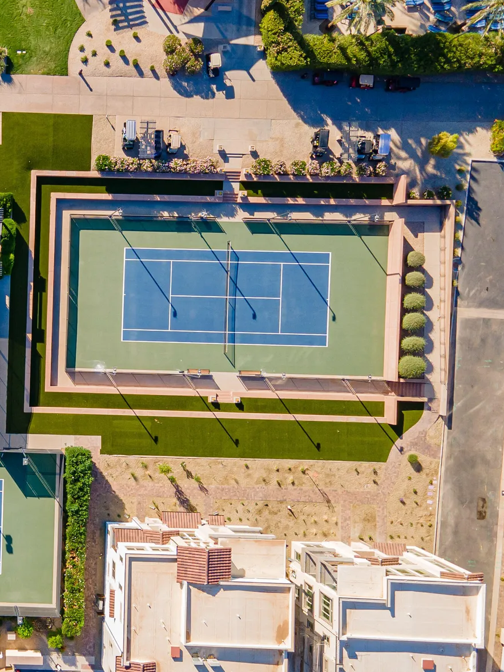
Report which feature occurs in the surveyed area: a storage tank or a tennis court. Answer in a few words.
tennis court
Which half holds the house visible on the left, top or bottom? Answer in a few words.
bottom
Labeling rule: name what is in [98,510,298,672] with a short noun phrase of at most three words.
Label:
house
